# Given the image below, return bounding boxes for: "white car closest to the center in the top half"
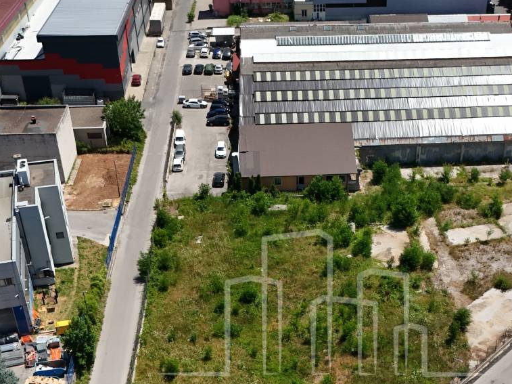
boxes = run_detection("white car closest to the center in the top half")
[214,141,227,157]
